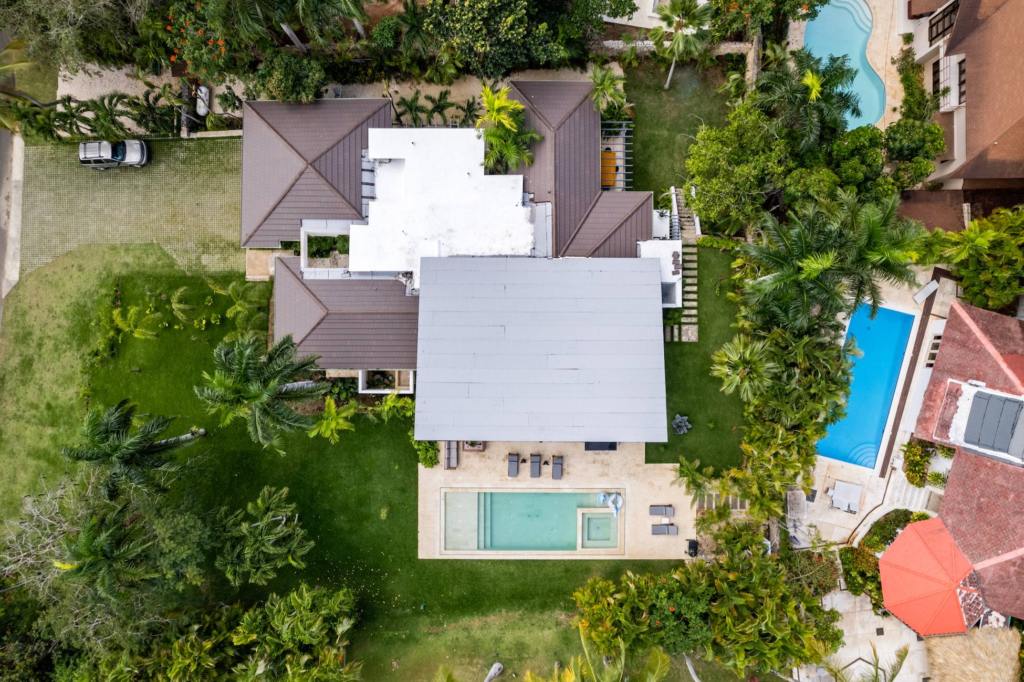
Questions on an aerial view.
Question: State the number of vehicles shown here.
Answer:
one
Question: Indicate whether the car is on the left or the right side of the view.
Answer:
left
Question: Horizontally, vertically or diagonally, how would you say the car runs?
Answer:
horizontally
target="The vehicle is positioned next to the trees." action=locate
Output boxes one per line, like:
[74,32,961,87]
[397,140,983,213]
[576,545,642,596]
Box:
[78,136,150,171]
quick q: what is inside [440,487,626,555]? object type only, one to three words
swimming pool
